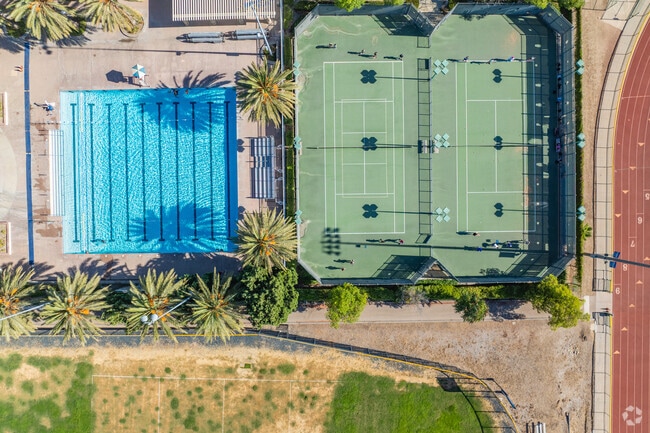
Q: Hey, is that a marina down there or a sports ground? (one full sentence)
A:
What you see here is a sports ground.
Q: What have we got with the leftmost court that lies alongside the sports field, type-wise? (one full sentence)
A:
I'd identify the leftmost court that lies alongside the sports field as a tennis court.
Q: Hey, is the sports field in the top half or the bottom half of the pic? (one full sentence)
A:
Seen from above, the sports field lies in the bottom half of the view.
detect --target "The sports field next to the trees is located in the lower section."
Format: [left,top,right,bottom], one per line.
[0,330,513,433]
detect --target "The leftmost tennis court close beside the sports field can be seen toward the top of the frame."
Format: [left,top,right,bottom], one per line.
[298,15,432,279]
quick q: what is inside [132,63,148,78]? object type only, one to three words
umbrella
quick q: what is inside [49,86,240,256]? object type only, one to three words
swimming pool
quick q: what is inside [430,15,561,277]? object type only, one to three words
tennis court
